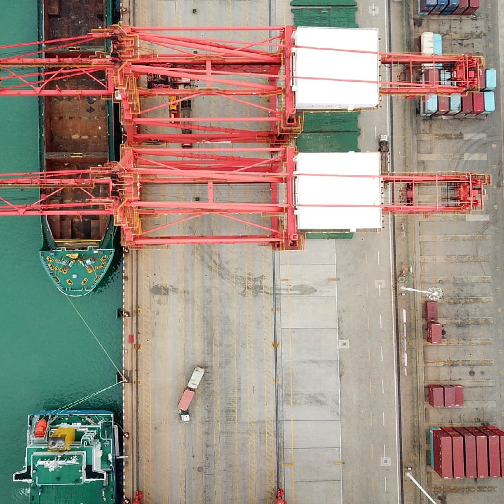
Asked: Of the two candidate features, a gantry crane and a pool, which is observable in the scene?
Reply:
gantry crane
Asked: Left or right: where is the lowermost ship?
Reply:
left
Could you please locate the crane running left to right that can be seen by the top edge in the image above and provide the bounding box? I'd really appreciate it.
[0,21,489,154]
